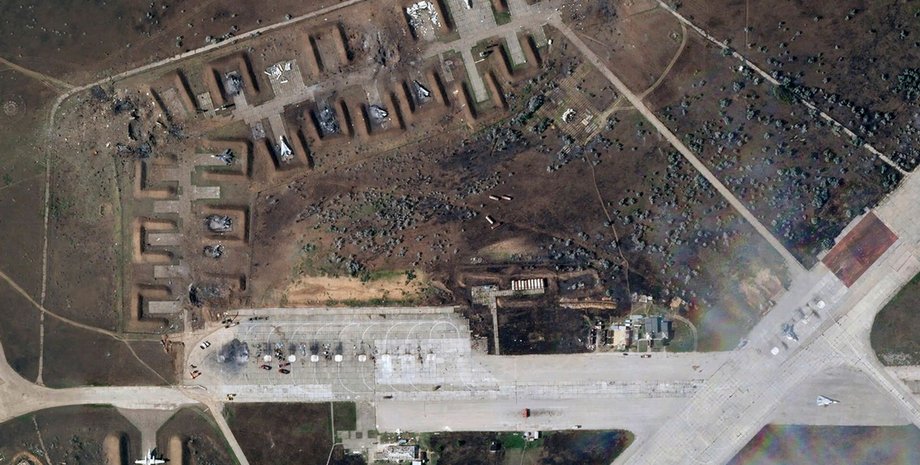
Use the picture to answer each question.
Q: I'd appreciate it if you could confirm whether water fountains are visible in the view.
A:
No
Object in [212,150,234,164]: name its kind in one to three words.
airplane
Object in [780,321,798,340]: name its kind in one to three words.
airplane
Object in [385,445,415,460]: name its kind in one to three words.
building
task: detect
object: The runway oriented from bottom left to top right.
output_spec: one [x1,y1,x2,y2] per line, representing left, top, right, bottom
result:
[612,164,920,465]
